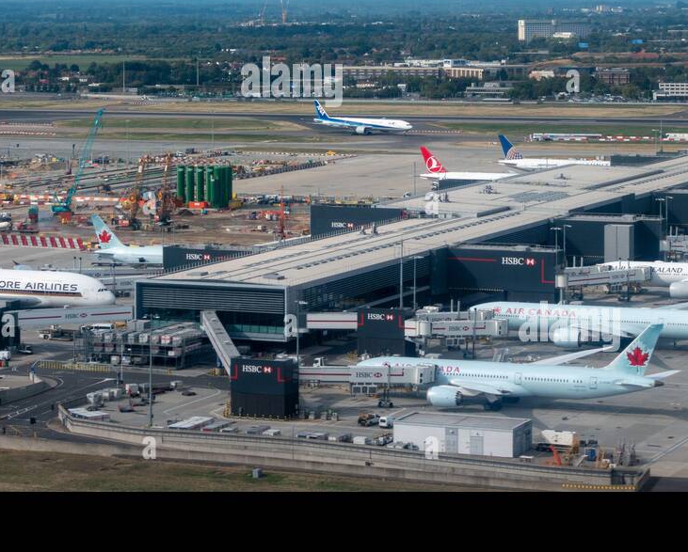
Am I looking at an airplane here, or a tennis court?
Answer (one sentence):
Of the two, only an airplane appears.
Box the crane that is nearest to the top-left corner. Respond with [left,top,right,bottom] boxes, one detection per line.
[49,106,106,223]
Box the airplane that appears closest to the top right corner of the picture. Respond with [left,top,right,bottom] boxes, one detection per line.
[489,134,614,170]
